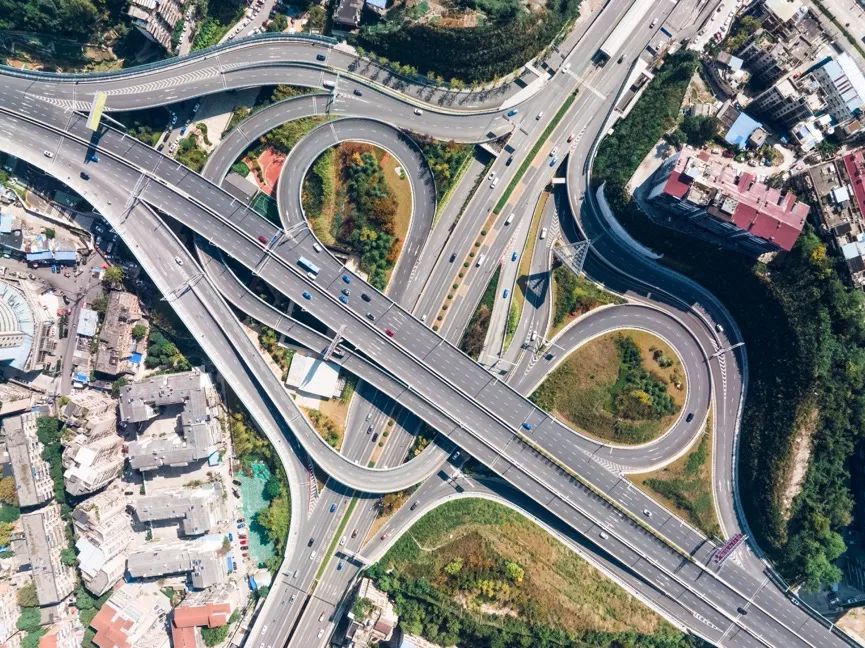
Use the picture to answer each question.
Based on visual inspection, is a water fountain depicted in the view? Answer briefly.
No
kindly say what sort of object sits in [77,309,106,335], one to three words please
house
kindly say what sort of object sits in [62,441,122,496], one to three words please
building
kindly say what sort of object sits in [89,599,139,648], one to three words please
house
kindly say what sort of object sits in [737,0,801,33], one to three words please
building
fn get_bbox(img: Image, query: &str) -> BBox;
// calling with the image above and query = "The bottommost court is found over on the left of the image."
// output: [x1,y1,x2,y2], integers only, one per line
[250,193,282,227]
